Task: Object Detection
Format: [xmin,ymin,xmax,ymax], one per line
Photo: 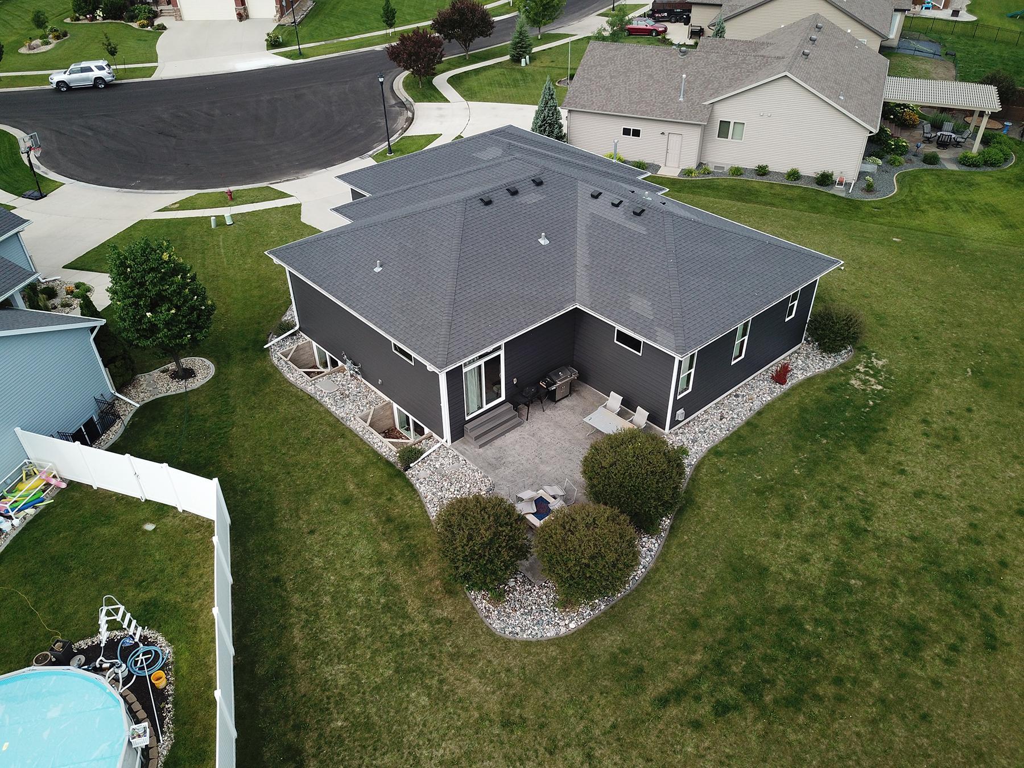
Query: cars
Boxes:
[47,59,113,91]
[626,19,666,37]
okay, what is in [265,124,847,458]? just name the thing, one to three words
house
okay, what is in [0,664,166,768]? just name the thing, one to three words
swimming pool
